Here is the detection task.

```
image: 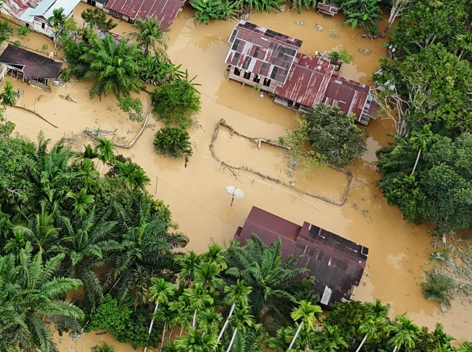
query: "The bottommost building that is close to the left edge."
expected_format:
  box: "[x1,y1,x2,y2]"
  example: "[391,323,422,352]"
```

[0,44,63,90]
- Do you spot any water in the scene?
Yes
